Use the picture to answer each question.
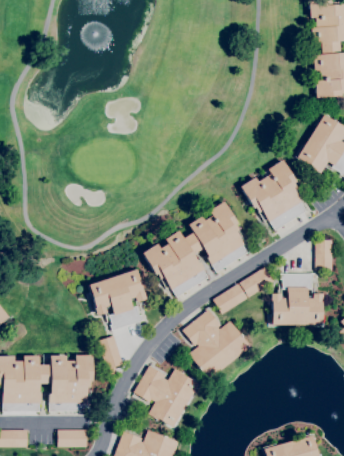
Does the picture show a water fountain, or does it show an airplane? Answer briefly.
water fountain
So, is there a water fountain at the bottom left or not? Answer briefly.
No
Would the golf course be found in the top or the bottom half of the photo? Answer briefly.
top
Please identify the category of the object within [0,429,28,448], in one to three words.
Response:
building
